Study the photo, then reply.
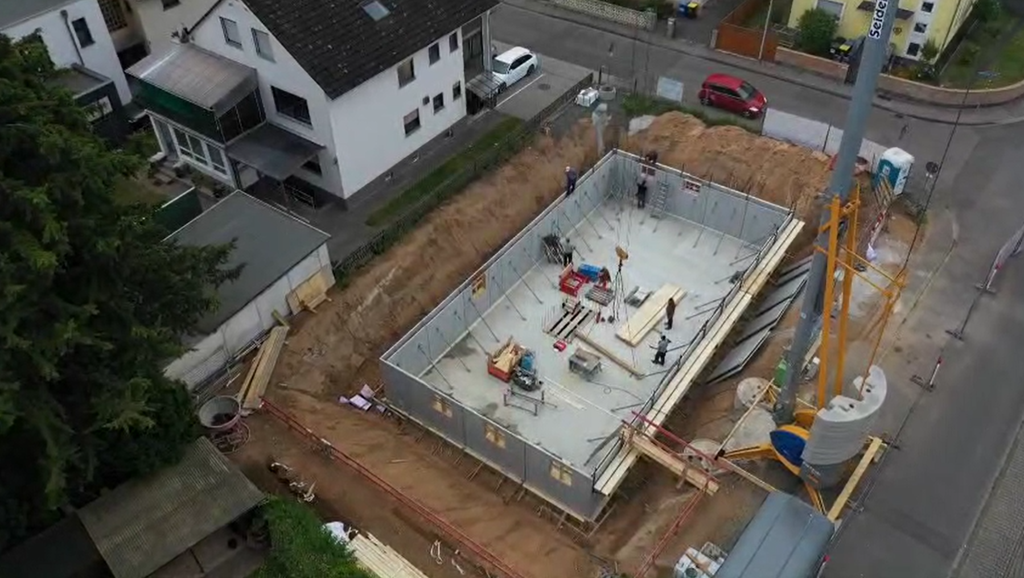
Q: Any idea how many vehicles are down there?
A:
two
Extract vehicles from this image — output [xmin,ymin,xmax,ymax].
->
[705,76,772,116]
[485,49,534,94]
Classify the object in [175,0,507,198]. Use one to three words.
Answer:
house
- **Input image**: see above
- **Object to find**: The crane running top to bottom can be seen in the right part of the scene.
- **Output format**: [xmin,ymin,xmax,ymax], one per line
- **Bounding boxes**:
[710,0,979,517]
